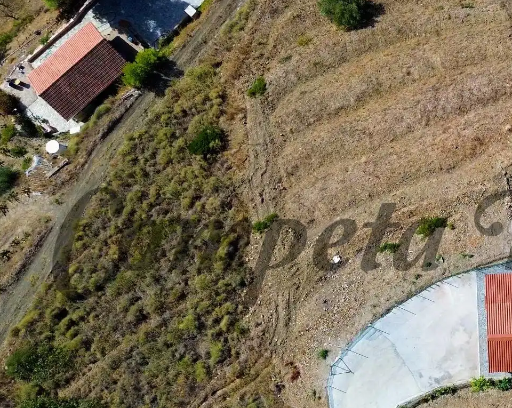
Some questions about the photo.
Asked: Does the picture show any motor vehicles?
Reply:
No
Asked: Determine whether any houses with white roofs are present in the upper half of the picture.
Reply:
No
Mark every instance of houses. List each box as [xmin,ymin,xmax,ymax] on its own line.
[27,21,129,121]
[485,273,512,373]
